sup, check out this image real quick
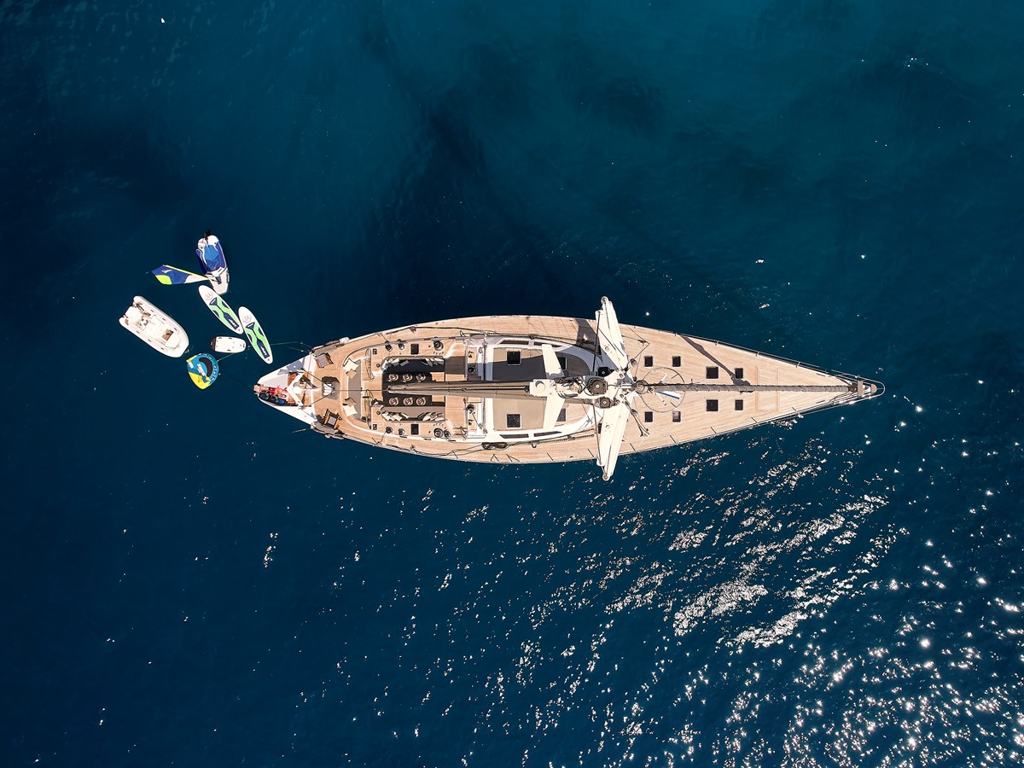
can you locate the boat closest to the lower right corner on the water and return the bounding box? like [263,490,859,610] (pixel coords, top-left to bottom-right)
[253,297,885,481]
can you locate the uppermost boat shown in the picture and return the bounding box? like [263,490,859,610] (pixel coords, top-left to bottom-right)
[194,230,230,295]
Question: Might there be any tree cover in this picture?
No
